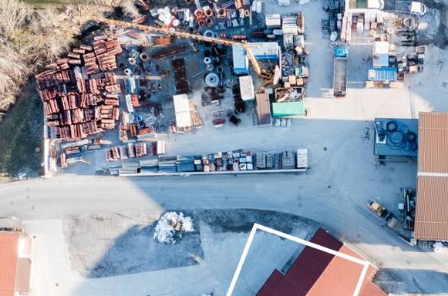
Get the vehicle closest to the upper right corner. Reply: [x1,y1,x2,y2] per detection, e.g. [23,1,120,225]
[395,1,426,15]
